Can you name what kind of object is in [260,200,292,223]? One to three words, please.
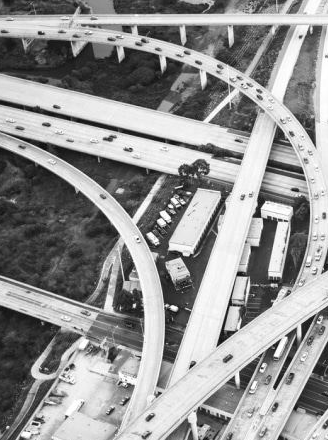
building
